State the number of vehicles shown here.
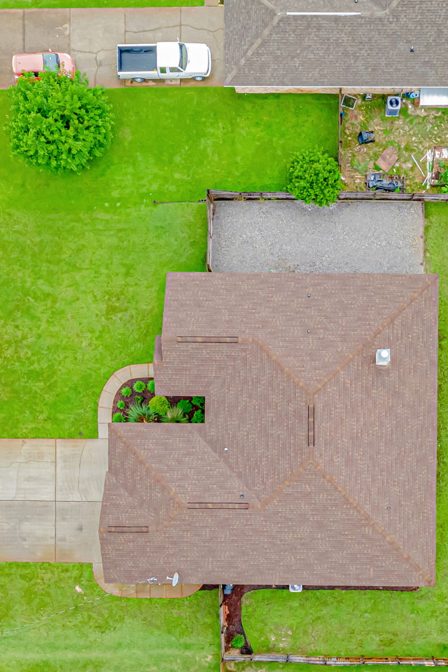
two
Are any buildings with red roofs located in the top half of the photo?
No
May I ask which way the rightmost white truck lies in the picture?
from side to side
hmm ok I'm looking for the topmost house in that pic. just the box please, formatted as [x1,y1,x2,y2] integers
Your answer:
[222,0,448,95]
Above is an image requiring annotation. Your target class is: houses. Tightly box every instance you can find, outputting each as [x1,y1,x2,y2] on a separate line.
[99,272,439,587]
[222,0,448,95]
